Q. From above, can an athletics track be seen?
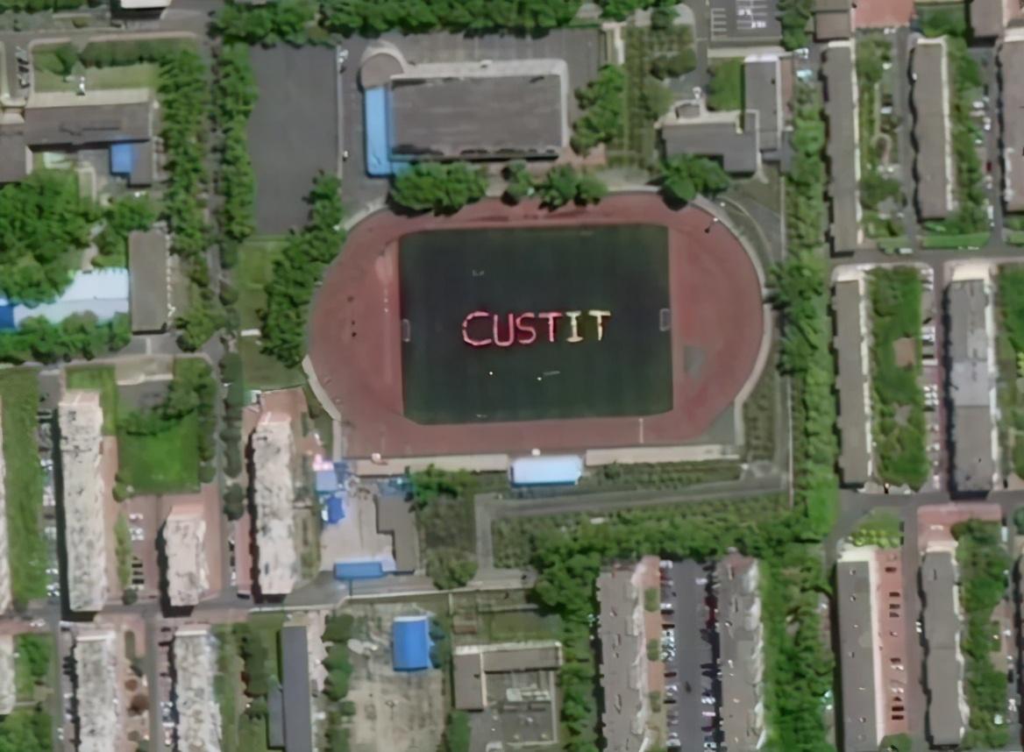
Yes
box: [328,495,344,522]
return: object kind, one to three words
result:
shed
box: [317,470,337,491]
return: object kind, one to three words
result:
shed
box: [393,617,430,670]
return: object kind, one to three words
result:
building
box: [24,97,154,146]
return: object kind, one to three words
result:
building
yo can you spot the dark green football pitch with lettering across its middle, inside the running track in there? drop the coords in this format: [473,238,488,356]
[401,225,672,424]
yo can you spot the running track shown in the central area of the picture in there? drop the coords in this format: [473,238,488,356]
[304,189,763,458]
